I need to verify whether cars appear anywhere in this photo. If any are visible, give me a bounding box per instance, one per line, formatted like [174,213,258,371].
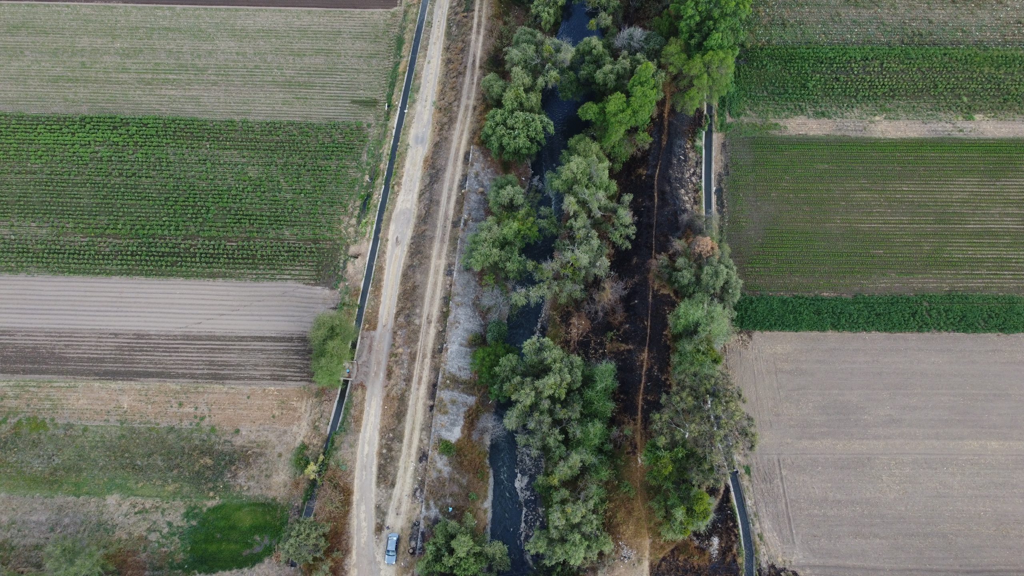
[384,533,400,566]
